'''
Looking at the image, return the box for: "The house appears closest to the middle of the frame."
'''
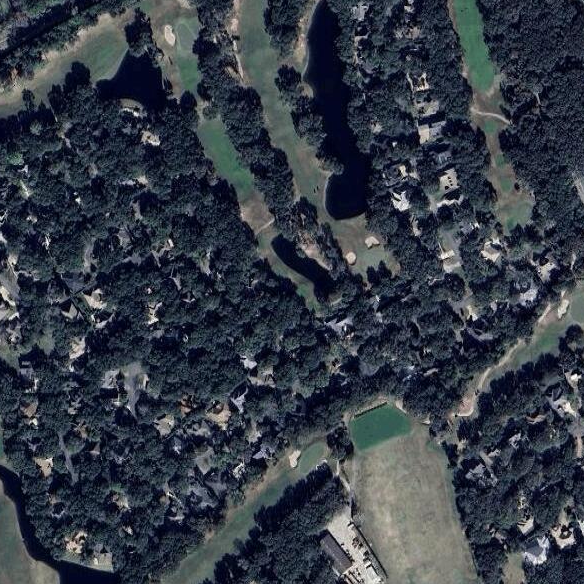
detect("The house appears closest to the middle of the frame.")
[322,312,355,336]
